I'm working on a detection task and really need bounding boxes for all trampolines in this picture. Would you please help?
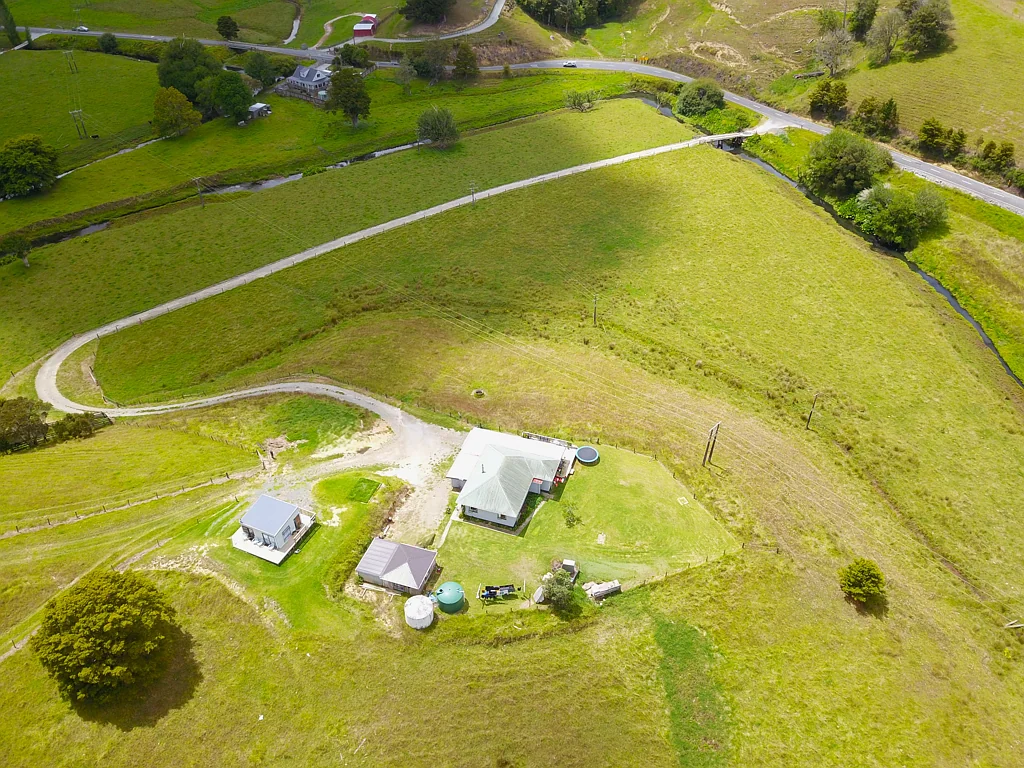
[575,446,599,466]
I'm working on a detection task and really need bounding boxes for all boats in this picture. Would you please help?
[532,590,544,605]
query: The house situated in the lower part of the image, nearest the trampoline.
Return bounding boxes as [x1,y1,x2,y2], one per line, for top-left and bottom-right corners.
[447,428,566,526]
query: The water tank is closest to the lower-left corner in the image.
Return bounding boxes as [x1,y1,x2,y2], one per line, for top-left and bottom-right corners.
[404,594,435,631]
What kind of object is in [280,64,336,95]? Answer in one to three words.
house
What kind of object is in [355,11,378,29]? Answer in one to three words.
barn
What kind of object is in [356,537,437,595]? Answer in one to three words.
building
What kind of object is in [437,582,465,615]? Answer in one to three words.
water tank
